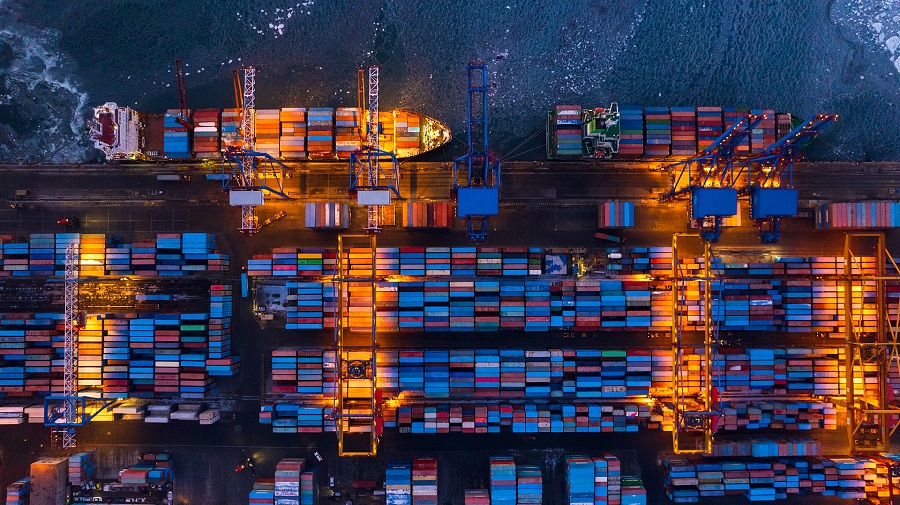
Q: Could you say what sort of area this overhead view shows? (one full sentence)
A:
The area seen from above is a port.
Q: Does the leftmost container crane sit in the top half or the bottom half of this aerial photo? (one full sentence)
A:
You can find the leftmost container crane in the bottom half.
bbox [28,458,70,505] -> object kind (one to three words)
building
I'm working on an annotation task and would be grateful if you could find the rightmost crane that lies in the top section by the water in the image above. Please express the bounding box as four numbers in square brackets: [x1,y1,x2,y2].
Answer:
[713,121,840,248]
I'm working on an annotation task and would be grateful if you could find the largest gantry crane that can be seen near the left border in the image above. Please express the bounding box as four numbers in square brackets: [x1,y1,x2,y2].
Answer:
[41,244,123,448]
